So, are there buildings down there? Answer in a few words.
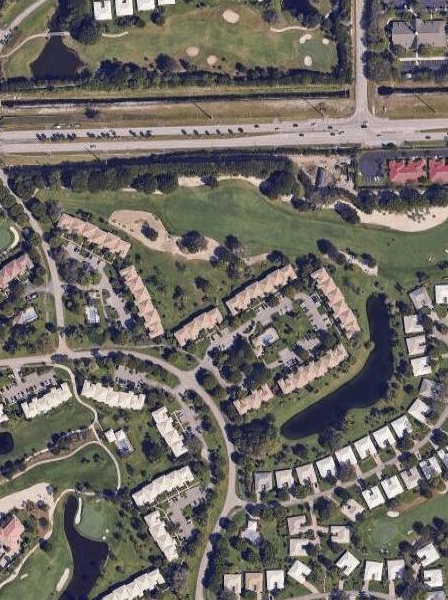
Yes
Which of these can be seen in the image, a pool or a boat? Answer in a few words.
pool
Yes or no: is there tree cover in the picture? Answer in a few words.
Yes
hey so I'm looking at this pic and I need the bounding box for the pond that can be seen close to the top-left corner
[31,29,86,80]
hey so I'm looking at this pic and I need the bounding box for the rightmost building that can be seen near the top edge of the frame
[416,17,447,47]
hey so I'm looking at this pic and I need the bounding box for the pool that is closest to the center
[258,326,282,348]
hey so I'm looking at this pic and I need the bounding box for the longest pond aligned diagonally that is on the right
[281,293,392,439]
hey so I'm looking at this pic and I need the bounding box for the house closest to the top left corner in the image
[93,0,113,20]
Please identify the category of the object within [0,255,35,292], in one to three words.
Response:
building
